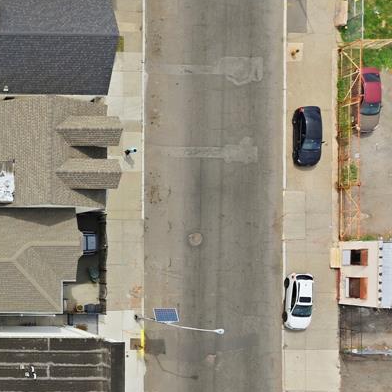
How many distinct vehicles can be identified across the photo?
three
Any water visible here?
No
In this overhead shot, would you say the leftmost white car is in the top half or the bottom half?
bottom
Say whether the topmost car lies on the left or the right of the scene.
right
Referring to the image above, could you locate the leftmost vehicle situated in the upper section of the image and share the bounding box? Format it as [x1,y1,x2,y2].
[291,106,324,166]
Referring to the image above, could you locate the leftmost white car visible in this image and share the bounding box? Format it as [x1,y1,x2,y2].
[282,274,314,330]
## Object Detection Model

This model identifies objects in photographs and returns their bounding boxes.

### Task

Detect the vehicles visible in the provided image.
[291,106,324,166]
[282,274,314,330]
[352,70,386,132]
